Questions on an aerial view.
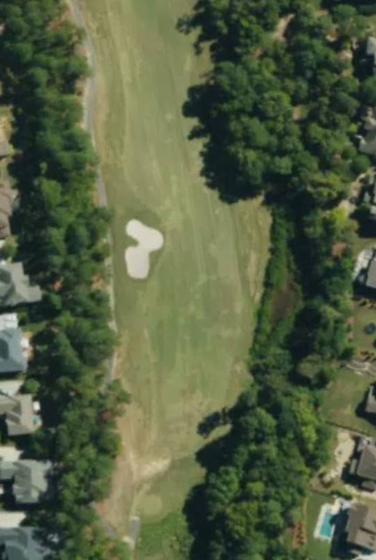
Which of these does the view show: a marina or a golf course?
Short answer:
golf course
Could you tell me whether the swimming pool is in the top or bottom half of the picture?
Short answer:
bottom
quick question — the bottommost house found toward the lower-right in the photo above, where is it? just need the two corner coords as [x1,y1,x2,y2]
[343,502,376,552]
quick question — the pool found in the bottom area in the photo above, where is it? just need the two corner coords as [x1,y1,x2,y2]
[314,498,343,543]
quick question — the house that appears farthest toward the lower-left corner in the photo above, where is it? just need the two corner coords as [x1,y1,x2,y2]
[0,525,49,560]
